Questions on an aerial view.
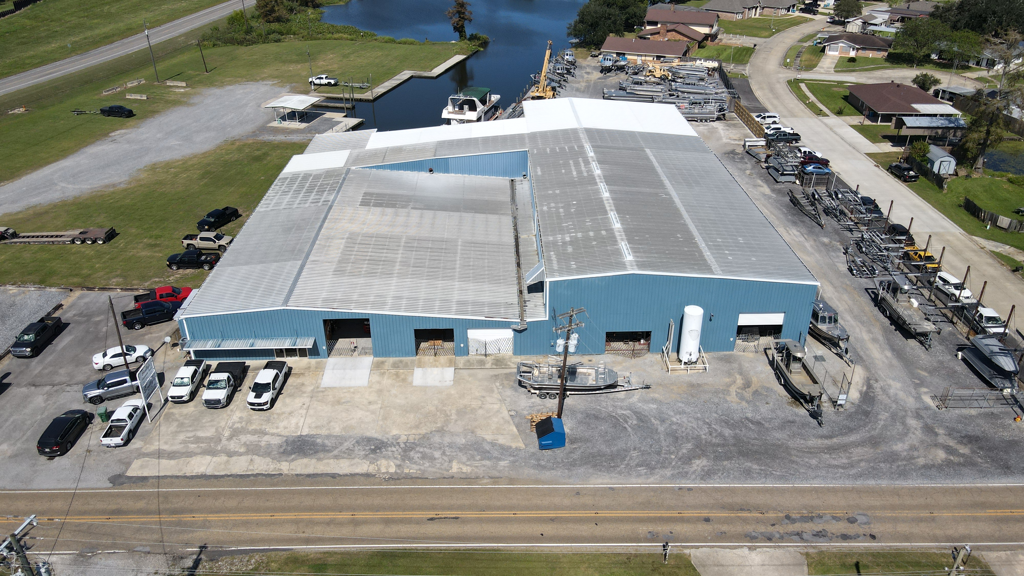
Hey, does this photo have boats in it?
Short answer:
Yes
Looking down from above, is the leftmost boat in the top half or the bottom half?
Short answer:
top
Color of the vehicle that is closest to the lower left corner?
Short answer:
black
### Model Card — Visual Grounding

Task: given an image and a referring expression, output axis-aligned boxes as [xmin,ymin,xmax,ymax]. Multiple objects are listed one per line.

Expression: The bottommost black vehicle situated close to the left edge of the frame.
[30,407,91,459]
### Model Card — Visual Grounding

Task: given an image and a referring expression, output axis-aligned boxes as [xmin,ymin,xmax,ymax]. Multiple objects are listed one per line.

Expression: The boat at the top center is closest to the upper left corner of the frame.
[442,85,504,124]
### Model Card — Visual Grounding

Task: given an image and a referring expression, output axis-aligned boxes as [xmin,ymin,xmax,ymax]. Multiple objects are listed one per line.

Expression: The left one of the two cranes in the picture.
[523,40,563,100]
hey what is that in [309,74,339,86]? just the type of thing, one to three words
vehicle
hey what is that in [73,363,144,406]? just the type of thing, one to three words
truck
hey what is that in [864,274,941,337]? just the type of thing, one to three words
boat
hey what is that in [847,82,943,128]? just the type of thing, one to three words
house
